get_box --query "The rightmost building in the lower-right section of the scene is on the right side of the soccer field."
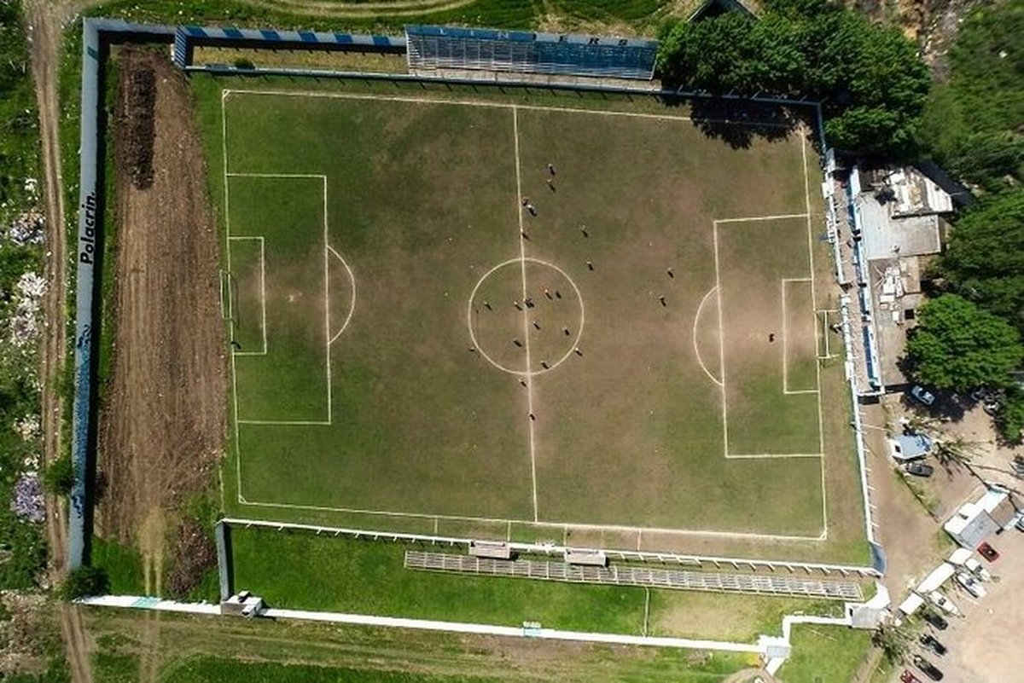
[945,487,1018,549]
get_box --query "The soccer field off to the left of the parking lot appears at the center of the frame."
[192,70,870,567]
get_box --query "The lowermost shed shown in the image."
[759,637,789,658]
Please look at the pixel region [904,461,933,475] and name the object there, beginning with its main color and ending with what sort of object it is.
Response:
gray car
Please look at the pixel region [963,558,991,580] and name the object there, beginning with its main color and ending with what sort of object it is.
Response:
white vehicle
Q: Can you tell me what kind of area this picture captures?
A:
sports ground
